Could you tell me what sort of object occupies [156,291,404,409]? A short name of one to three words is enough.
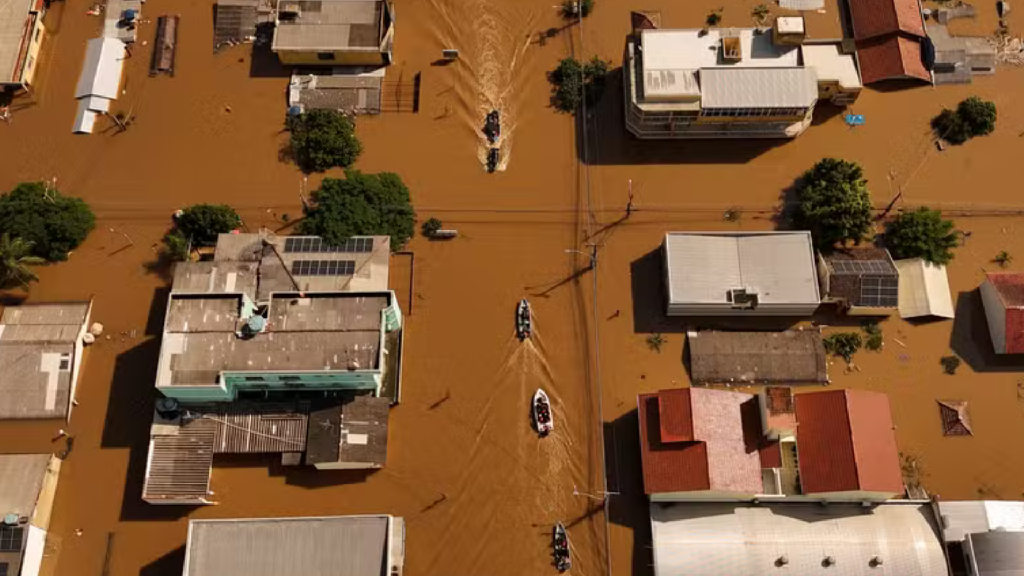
building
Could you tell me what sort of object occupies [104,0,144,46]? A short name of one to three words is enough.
house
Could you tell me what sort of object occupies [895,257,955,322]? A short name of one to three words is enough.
shed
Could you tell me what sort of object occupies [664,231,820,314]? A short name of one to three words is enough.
building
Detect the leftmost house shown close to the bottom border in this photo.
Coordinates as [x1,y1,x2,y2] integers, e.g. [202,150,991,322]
[0,455,62,576]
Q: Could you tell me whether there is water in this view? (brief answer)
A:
Yes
